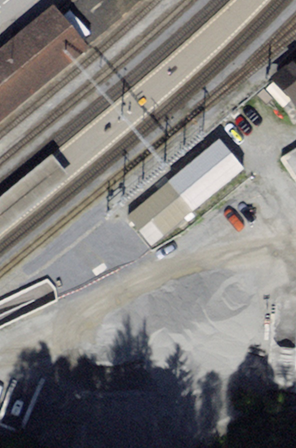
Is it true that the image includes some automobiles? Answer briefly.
Yes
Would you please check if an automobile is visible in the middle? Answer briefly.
Yes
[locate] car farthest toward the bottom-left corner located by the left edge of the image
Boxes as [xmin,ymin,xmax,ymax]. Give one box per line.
[11,398,24,418]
